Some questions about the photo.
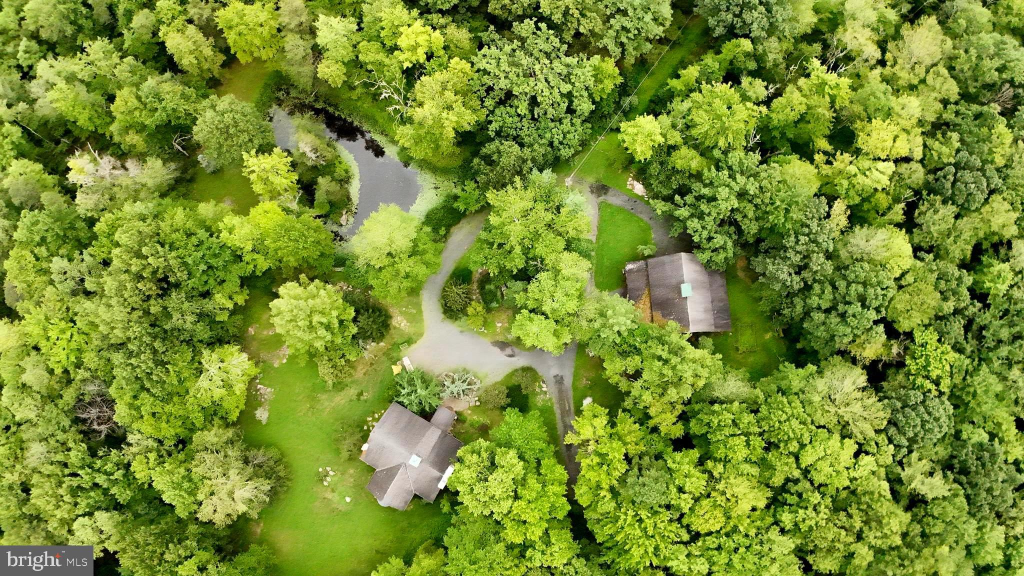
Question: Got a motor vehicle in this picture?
No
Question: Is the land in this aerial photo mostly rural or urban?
rural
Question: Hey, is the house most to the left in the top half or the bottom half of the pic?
bottom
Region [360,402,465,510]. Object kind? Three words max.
house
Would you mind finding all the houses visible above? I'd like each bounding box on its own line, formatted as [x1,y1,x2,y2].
[624,251,728,335]
[360,402,465,510]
